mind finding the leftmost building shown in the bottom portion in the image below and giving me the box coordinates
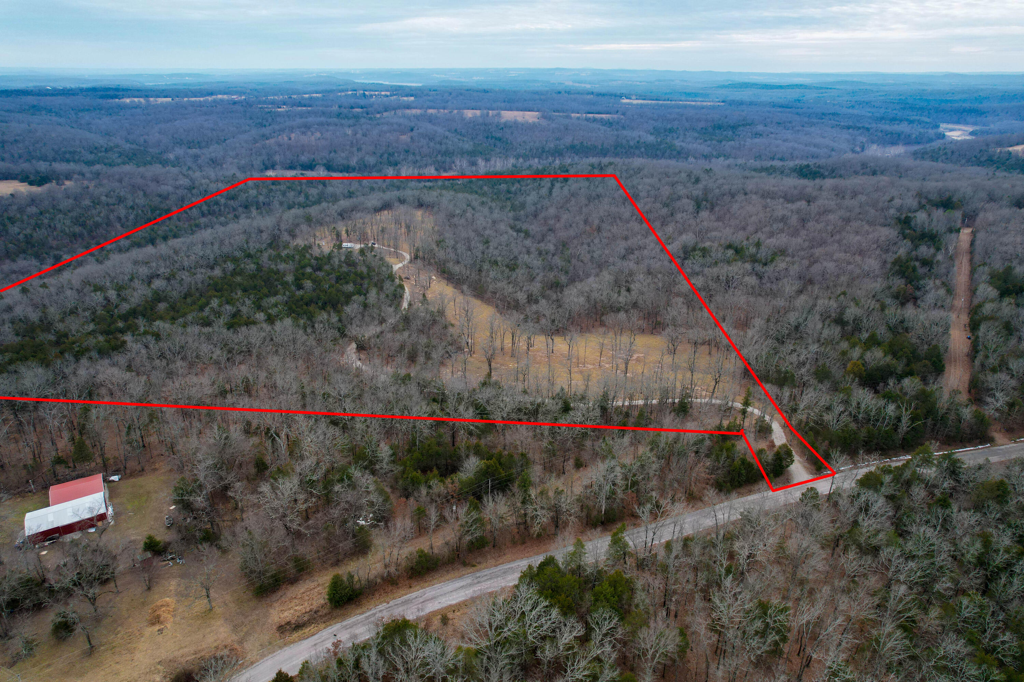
[23,475,109,546]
